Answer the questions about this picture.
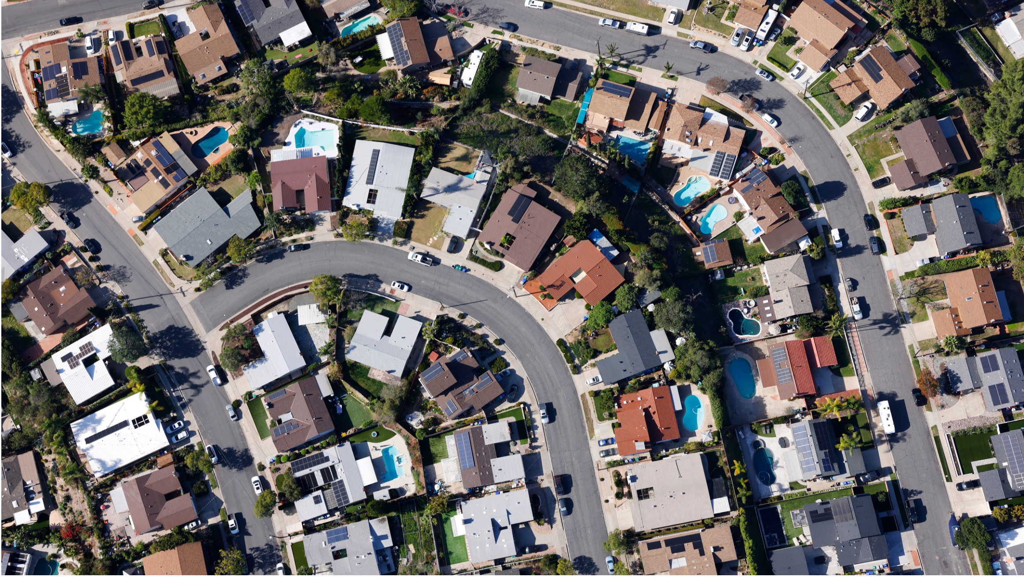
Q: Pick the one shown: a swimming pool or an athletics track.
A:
swimming pool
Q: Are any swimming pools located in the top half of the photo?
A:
Yes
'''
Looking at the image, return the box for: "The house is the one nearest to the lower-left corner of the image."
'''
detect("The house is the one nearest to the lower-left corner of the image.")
[0,451,50,526]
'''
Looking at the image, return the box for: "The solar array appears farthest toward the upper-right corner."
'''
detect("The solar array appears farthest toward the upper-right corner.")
[859,58,883,83]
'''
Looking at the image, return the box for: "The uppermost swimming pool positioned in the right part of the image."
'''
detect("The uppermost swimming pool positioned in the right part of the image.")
[606,133,651,164]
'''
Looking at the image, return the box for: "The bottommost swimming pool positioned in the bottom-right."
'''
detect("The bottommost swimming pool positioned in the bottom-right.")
[758,505,787,548]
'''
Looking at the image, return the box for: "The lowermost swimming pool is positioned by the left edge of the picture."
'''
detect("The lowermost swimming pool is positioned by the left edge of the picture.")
[31,557,61,577]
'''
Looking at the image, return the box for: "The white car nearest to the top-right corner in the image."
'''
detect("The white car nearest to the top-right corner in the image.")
[854,102,872,121]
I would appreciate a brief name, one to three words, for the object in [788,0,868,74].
house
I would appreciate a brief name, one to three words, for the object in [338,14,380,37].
swimming pool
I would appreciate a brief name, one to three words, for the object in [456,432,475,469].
solar array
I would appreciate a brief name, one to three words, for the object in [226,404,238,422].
vehicle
